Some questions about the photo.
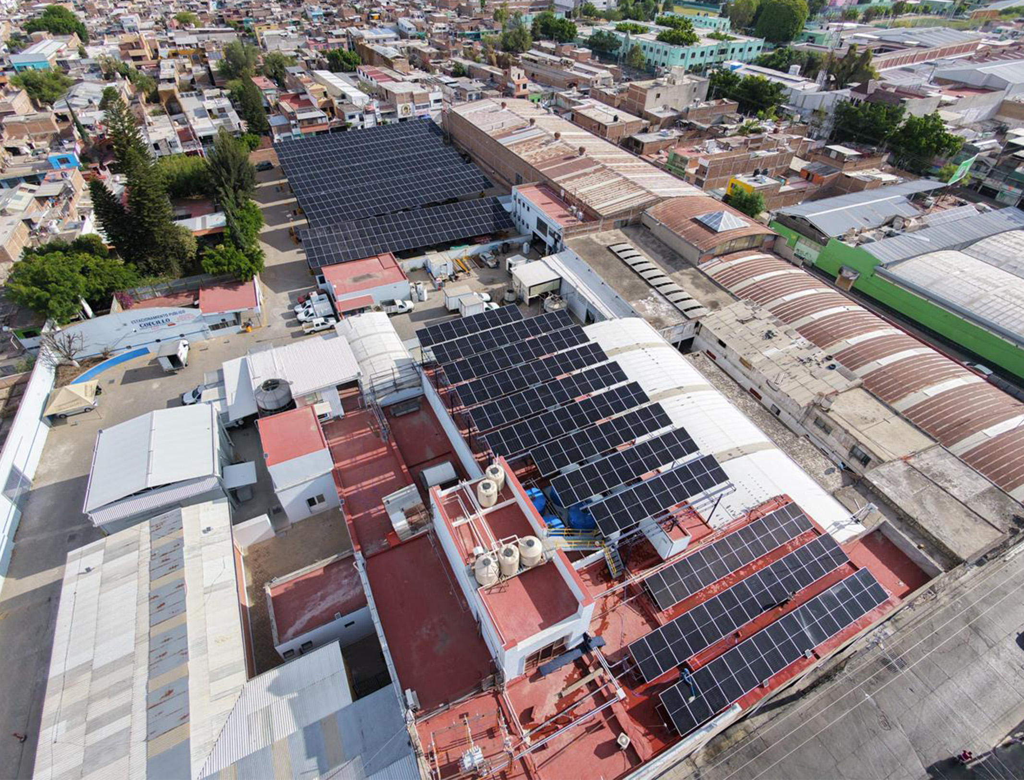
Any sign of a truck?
Yes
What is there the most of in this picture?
buildings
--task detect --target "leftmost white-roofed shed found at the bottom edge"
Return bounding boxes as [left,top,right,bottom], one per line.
[31,498,259,780]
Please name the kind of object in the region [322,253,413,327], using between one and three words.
house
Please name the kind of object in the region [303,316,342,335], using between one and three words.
vehicle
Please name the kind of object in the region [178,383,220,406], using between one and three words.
car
